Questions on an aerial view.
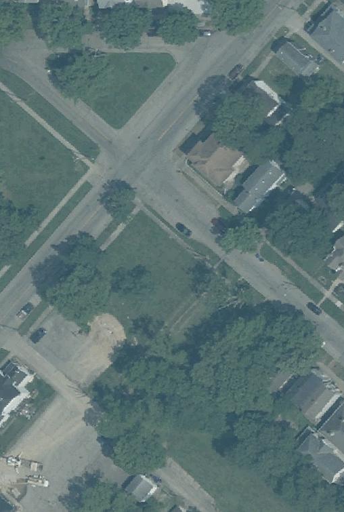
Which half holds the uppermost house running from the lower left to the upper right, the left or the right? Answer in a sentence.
The uppermost house running from the lower left to the upper right is on the right side of the image.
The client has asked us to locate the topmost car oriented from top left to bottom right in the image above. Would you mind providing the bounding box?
[176,222,193,236]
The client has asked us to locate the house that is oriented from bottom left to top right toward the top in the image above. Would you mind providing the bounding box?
[237,161,287,208]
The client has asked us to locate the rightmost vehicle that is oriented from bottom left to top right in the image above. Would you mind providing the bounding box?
[228,64,243,81]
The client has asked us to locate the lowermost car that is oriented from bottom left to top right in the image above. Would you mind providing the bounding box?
[30,328,47,343]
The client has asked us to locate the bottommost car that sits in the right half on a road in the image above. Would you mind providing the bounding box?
[306,301,322,316]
